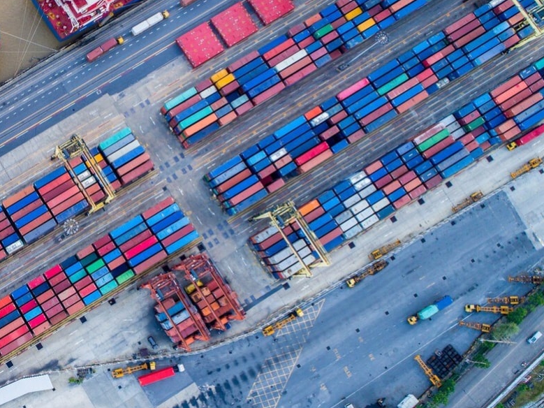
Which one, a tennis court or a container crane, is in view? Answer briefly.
container crane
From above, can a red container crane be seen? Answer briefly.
Yes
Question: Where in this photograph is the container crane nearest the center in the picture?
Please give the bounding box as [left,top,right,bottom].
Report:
[243,200,330,284]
